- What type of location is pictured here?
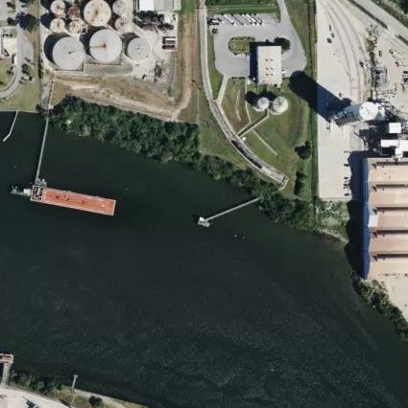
industrial area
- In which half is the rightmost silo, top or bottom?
top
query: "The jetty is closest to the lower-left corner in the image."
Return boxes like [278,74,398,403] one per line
[0,354,13,389]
